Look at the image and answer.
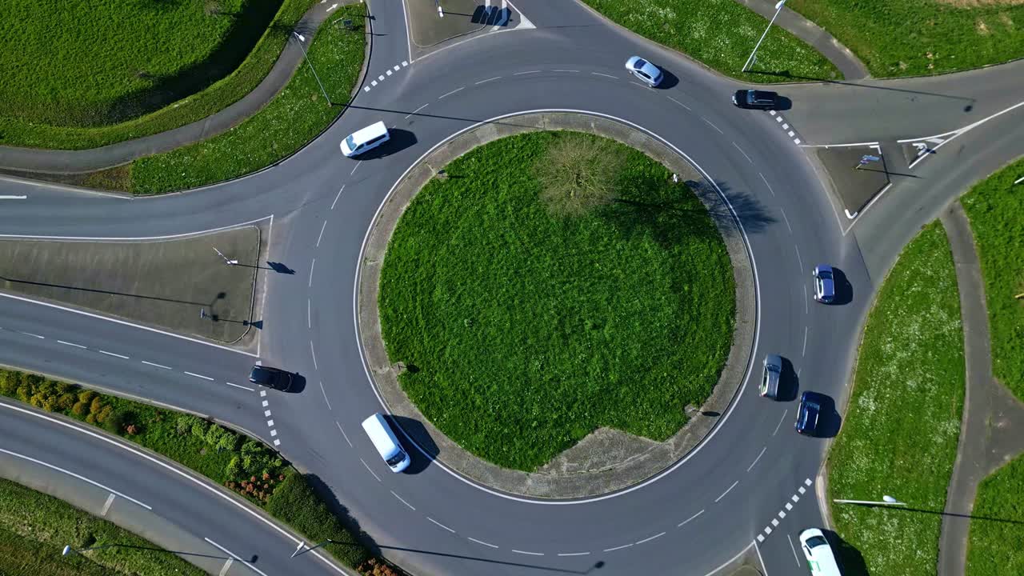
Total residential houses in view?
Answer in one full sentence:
The picture shows no residential houses.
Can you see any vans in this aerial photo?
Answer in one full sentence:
Yes, this view includes a van.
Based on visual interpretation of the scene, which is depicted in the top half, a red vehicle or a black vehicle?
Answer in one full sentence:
You can see a black vehicle in the top half.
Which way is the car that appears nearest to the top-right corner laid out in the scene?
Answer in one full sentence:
The car that appears nearest to the top-right corner runs from left to right in the image.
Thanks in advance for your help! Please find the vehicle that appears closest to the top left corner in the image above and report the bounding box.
[339,121,390,158]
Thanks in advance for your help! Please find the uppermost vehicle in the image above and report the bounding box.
[625,56,664,88]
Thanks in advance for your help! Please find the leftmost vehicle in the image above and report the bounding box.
[248,365,295,391]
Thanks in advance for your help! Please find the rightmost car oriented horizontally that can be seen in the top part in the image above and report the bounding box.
[732,87,777,109]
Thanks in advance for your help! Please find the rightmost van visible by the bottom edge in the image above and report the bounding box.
[801,529,844,576]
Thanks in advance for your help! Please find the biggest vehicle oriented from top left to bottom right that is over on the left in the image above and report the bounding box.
[362,413,410,472]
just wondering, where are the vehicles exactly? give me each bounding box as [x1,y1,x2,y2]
[732,87,777,109]
[362,413,410,472]
[794,390,822,436]
[625,56,664,88]
[813,263,837,303]
[248,365,295,391]
[759,353,785,399]
[801,529,844,576]
[339,121,390,158]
